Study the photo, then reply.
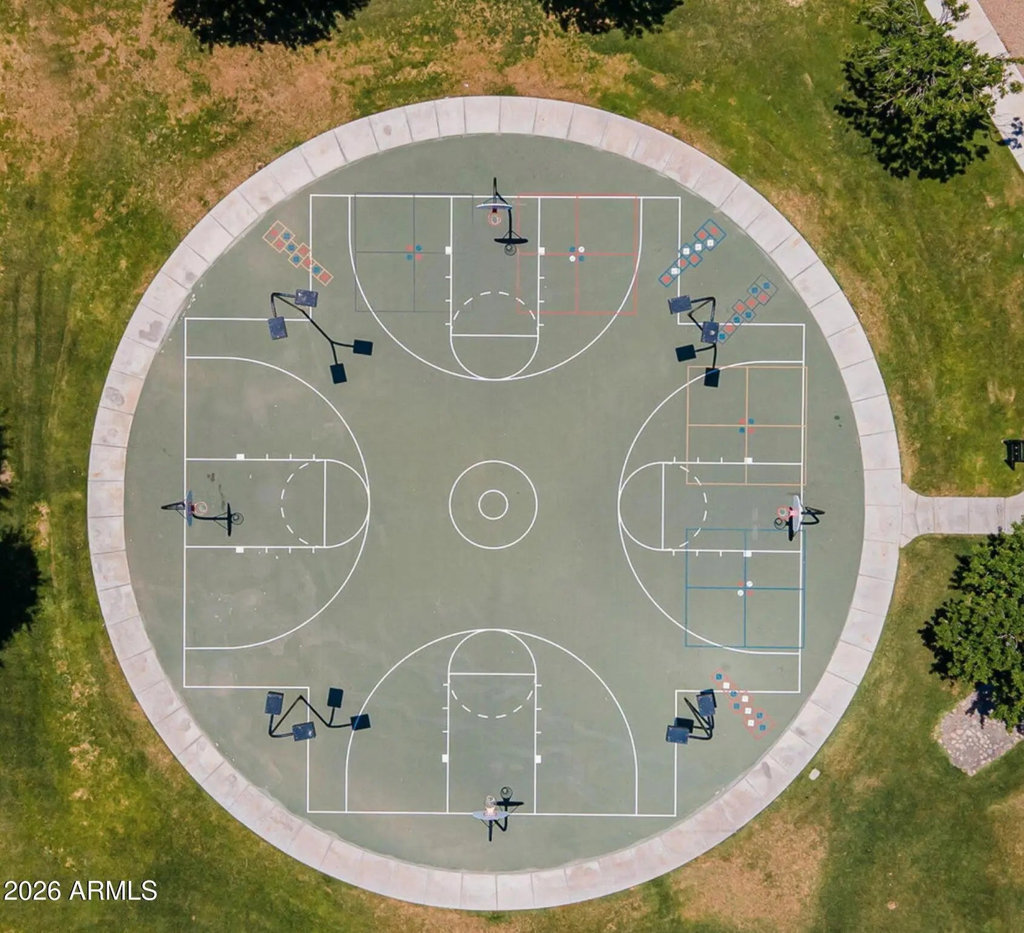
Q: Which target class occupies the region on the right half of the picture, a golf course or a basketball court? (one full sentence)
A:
The one visible on the right half of the picture is a basketball court.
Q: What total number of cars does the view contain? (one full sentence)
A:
Not a single car can be seen.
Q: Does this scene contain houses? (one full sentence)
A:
No, no house can be seen from above.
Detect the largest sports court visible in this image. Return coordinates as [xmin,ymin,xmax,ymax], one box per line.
[124,132,865,874]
